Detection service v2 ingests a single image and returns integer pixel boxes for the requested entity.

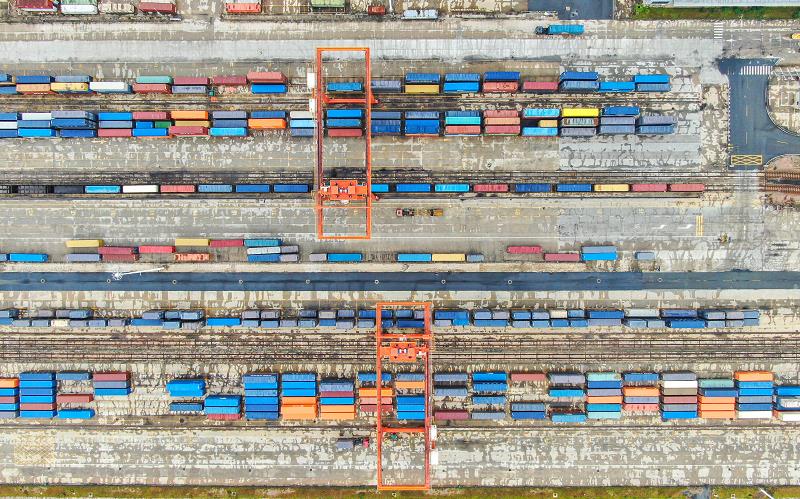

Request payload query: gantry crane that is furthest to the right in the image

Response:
[376,303,441,488]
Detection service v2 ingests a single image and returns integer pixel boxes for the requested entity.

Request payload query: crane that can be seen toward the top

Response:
[308,49,380,237]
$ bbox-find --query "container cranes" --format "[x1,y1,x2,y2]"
[376,303,441,488]
[308,49,380,237]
